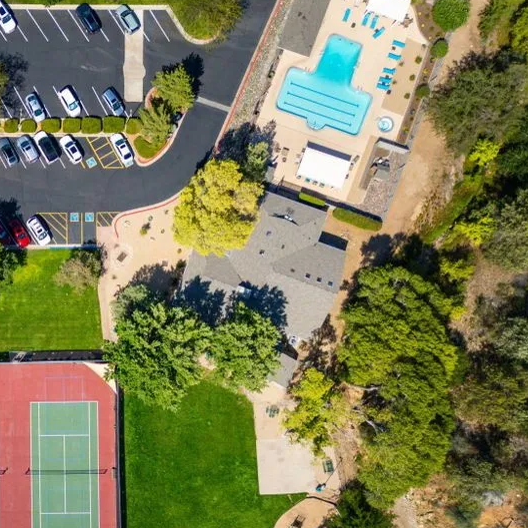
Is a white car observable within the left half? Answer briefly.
Yes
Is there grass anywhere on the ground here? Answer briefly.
Yes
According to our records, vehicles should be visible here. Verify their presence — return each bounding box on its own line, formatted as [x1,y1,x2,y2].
[9,217,30,247]
[118,4,139,34]
[0,138,18,167]
[77,2,99,34]
[102,86,123,115]
[59,86,80,117]
[36,131,59,165]
[25,91,46,122]
[111,135,133,165]
[61,134,82,165]
[18,135,38,164]
[28,214,49,244]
